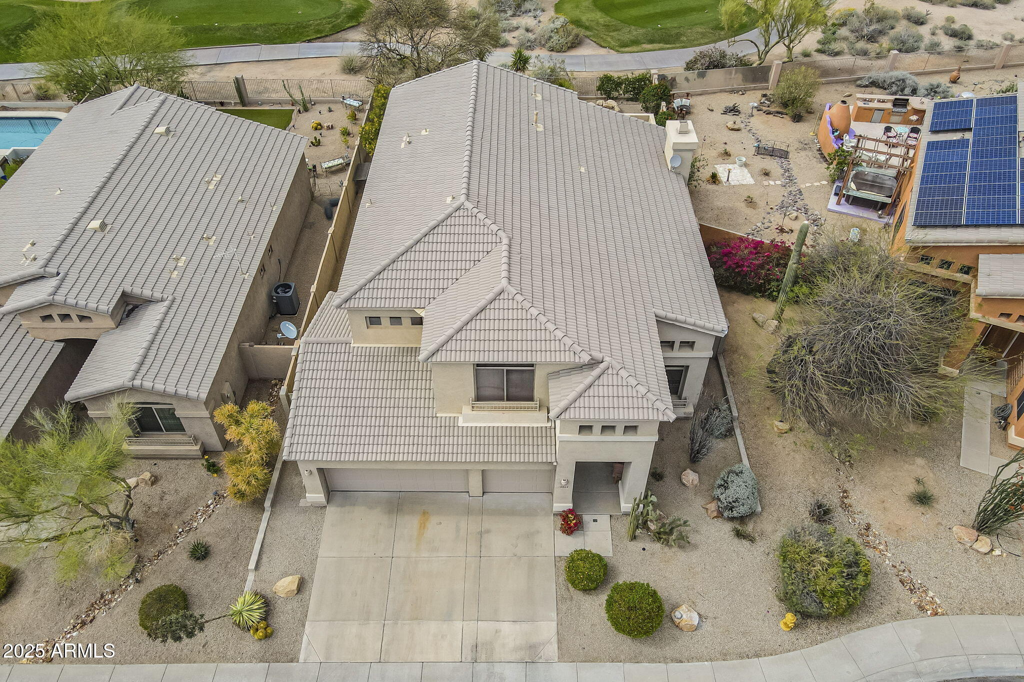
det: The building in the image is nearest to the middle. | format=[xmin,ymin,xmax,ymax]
[279,56,731,514]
